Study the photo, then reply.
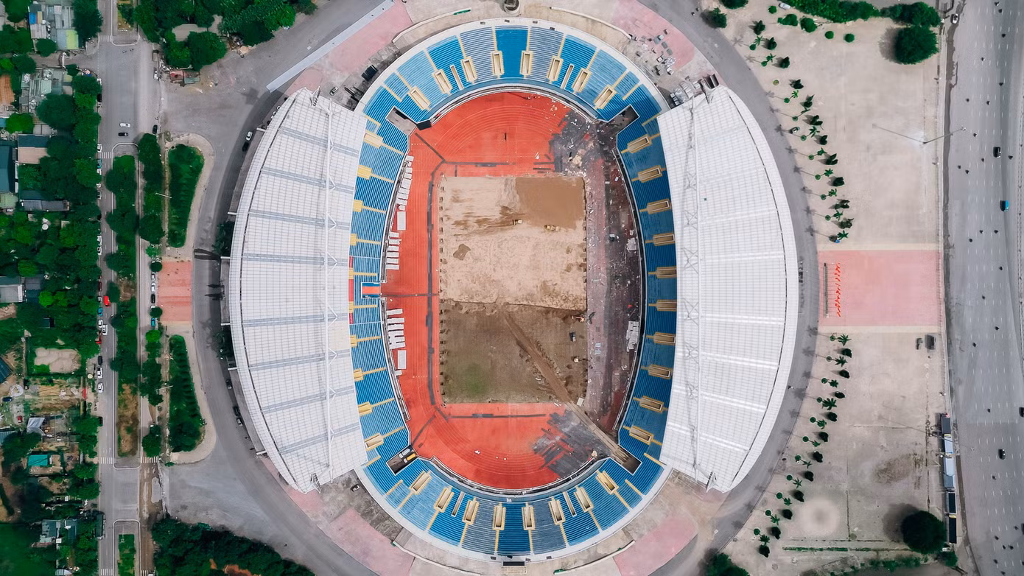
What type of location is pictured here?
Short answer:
sports ground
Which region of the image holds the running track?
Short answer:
center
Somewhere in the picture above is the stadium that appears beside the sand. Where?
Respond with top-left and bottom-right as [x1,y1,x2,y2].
[221,17,798,563]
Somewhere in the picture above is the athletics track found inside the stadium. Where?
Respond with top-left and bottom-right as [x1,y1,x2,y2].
[386,91,640,488]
